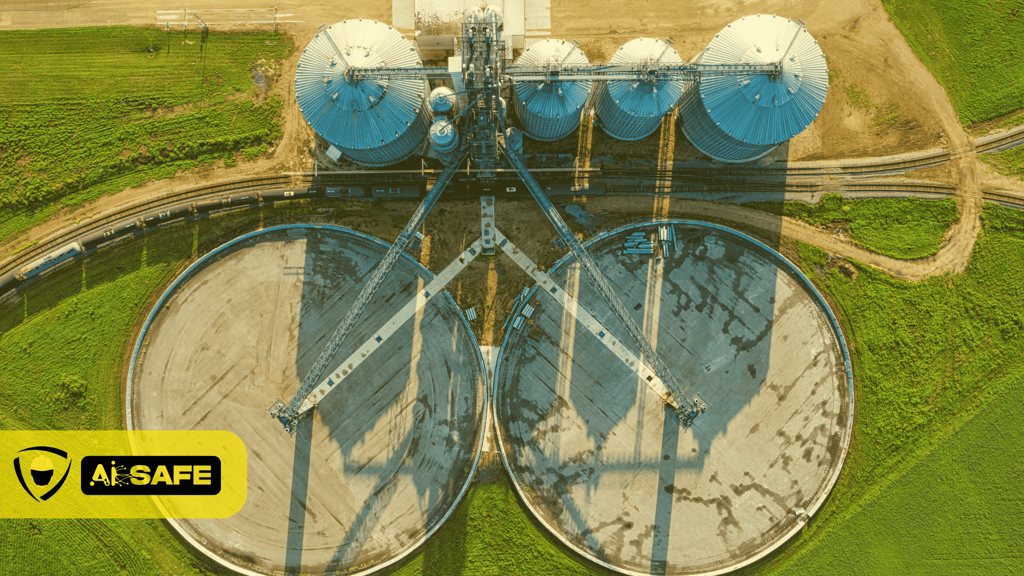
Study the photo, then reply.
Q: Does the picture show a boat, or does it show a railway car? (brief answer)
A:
railway car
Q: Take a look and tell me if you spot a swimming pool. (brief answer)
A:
No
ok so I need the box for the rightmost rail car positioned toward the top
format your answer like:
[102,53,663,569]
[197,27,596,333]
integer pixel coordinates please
[542,182,609,195]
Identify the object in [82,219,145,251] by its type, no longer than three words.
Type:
rail car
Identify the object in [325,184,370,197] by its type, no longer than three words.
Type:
rail car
